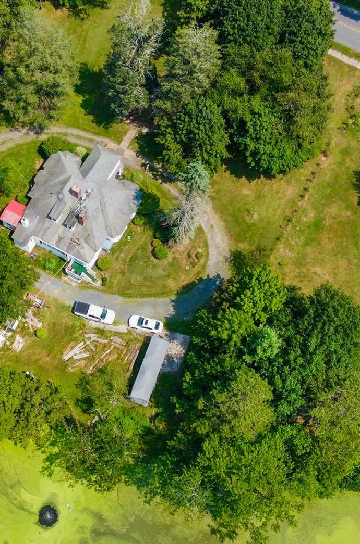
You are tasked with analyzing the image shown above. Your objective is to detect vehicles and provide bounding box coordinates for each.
[127,316,165,336]
[71,302,117,324]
